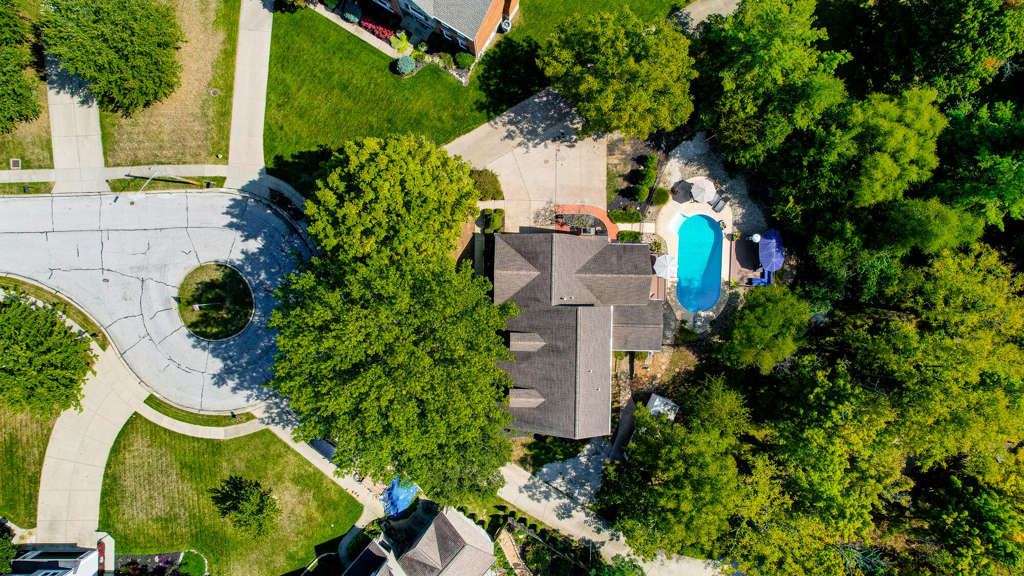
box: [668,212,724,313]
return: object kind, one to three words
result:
swimming pool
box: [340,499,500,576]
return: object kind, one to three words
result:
house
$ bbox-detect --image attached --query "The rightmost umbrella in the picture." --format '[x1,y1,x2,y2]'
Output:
[760,229,785,291]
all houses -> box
[485,226,663,440]
[363,0,517,58]
[340,499,500,576]
[0,550,98,576]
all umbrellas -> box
[760,229,785,291]
[652,254,678,280]
[690,178,716,204]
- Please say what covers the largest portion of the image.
trees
